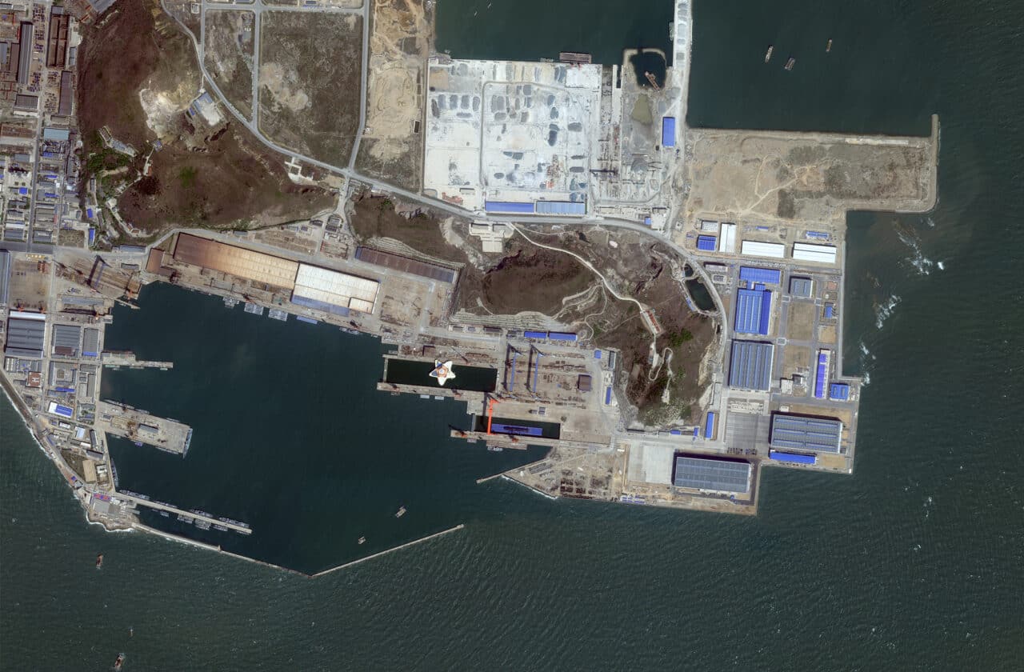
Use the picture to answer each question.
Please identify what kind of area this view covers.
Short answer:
port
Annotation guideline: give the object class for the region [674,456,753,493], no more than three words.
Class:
building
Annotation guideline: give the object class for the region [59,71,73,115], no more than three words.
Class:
shed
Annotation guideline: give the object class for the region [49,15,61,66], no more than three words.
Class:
shed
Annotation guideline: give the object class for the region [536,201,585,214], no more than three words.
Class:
building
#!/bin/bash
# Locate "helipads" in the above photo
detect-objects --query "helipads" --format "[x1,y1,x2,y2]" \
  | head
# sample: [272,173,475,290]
[27,372,42,387]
